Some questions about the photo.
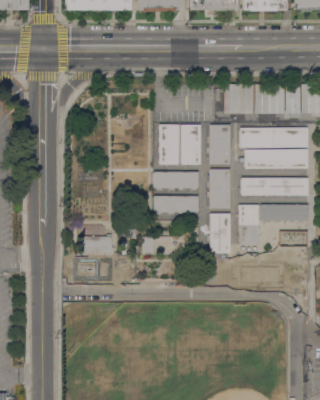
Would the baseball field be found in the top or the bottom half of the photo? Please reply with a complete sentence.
The bottom half of the photo is where the baseball field is.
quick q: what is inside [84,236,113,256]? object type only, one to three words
building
